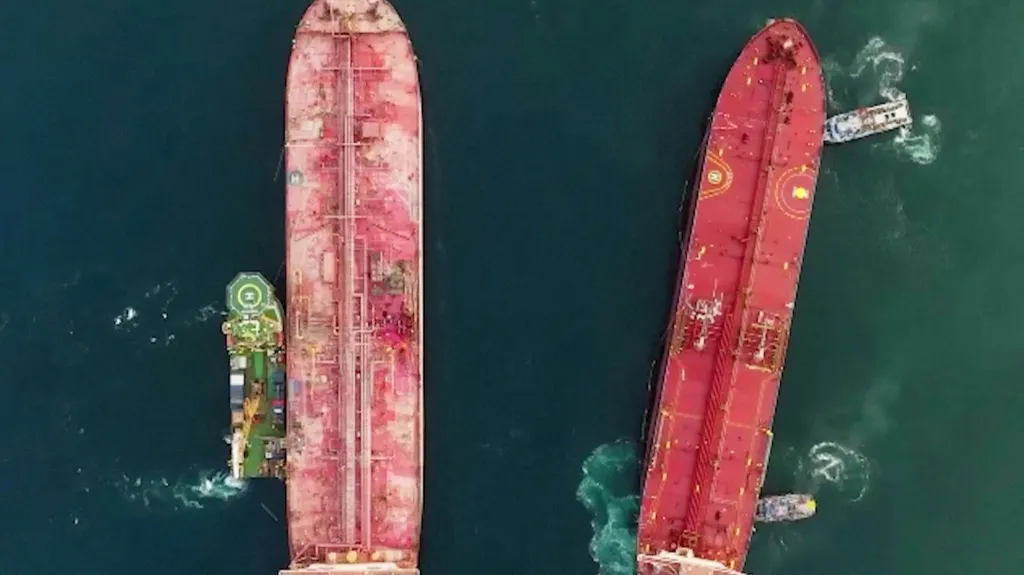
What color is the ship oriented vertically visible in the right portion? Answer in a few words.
red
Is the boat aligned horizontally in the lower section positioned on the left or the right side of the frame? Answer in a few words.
right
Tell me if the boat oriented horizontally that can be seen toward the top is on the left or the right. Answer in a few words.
right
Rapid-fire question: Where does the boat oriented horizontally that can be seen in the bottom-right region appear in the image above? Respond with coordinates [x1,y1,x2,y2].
[755,493,818,524]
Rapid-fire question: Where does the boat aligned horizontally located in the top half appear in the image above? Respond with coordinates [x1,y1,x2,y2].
[823,99,910,142]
